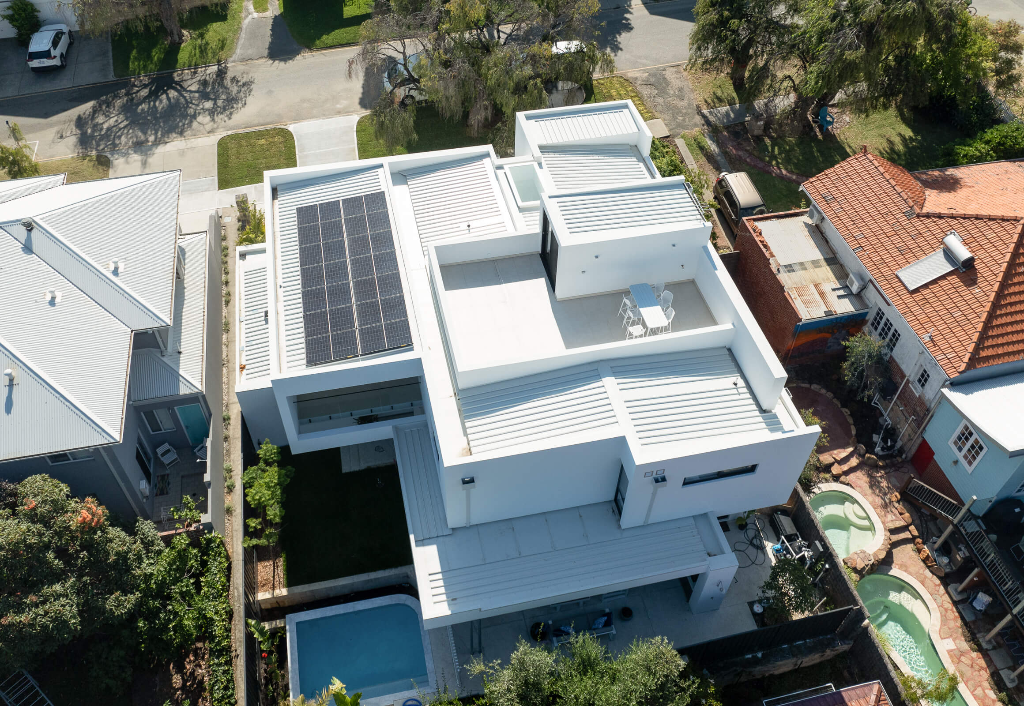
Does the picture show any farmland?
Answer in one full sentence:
No, there is no farmland in the image.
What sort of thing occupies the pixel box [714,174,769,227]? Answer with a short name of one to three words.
car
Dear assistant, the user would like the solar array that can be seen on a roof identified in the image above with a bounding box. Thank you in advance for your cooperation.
[294,191,417,368]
